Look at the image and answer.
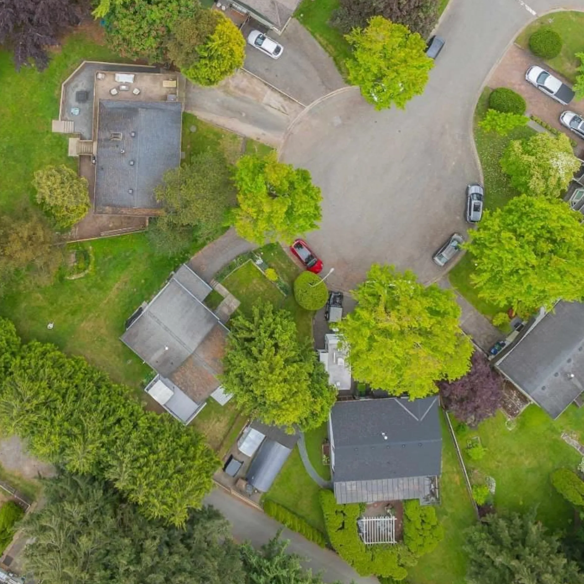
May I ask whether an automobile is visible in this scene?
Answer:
Yes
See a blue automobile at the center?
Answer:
No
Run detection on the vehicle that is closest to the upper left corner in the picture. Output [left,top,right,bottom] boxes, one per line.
[246,31,286,59]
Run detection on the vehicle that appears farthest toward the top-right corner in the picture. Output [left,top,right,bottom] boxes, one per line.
[525,66,577,107]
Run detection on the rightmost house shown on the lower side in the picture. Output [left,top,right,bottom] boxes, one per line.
[485,310,584,420]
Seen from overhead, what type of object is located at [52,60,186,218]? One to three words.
house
